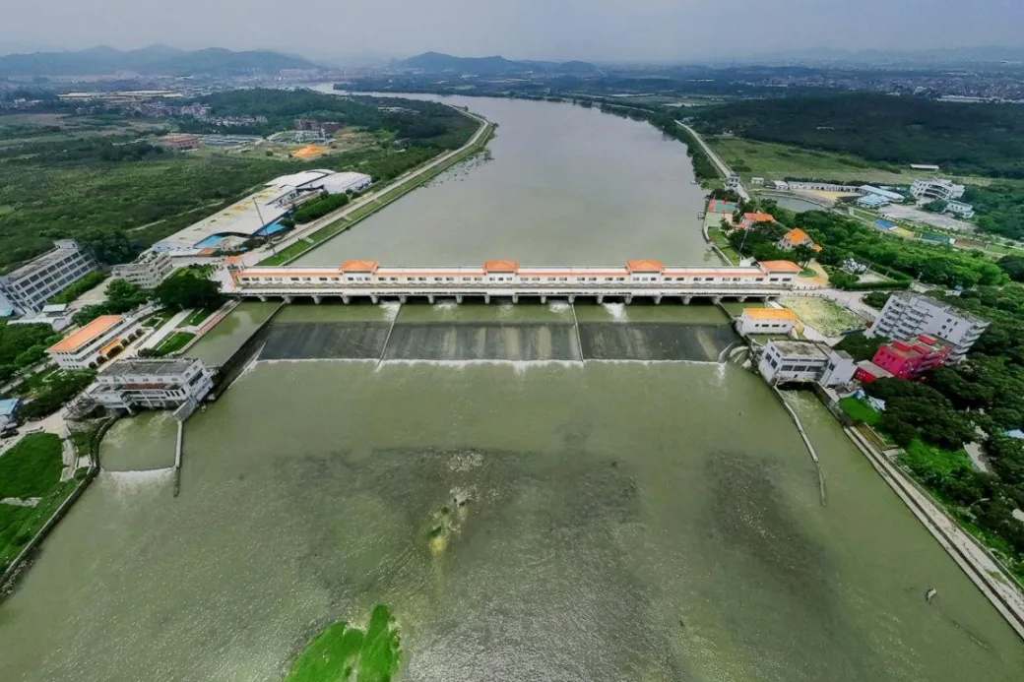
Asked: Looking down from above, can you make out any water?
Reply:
Yes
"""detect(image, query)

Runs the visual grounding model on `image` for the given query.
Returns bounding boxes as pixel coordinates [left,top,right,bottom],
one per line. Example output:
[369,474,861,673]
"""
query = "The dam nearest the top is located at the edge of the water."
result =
[228,260,811,304]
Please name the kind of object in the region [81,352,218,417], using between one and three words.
building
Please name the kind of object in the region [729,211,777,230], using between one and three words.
house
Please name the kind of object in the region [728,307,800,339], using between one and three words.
building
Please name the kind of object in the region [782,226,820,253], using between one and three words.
house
